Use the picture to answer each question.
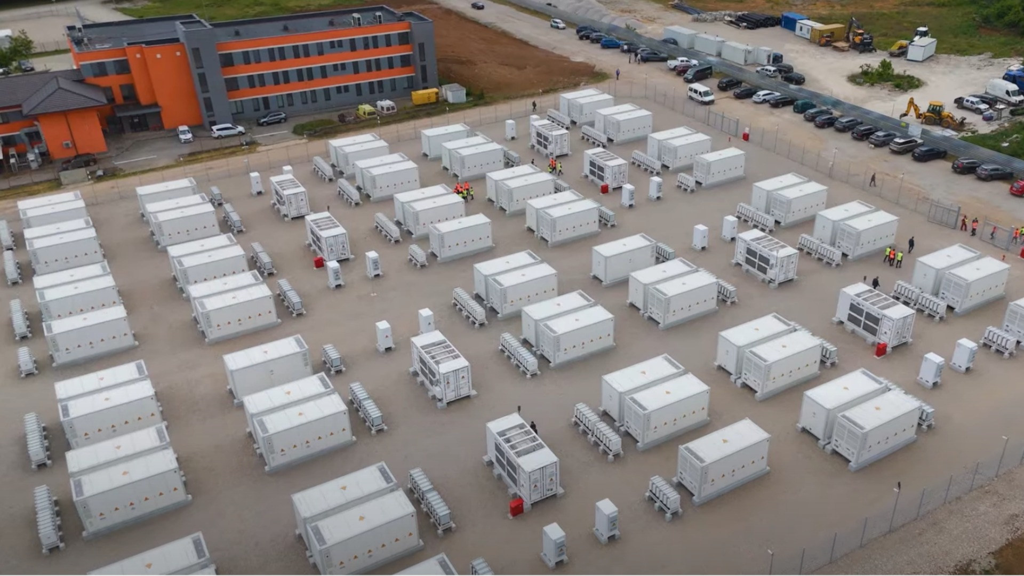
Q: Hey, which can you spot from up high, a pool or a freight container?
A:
freight container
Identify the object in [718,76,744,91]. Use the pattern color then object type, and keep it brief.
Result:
black car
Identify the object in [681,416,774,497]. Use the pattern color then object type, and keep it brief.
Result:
white shipping container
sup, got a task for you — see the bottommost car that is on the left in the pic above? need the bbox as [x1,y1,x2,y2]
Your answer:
[58,152,100,170]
